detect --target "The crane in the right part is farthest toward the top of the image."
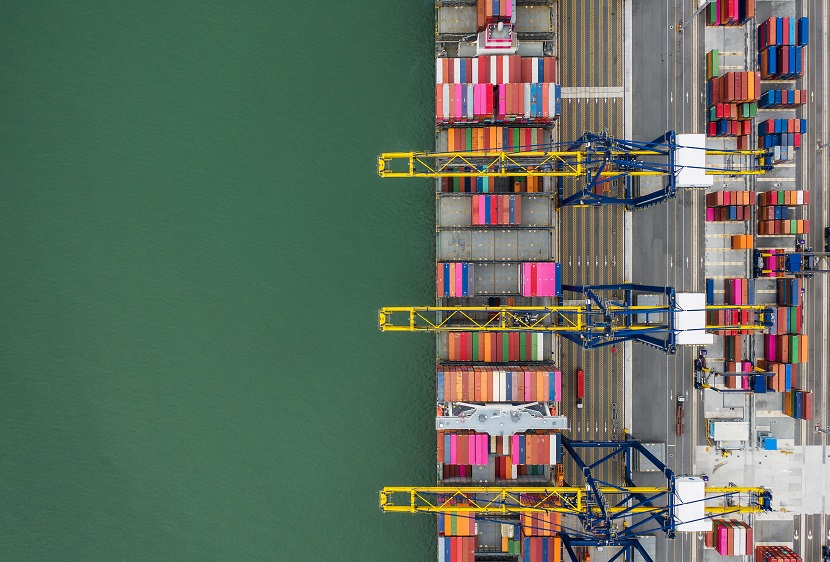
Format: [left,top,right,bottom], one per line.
[375,127,779,213]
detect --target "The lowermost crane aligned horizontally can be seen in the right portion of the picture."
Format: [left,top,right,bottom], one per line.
[561,525,654,562]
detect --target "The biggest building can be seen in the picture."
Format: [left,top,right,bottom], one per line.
[700,414,749,448]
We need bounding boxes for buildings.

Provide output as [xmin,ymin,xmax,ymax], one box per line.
[700,414,749,448]
[760,436,777,449]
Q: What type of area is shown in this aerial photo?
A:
port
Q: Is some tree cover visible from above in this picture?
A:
No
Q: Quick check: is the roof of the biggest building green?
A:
No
